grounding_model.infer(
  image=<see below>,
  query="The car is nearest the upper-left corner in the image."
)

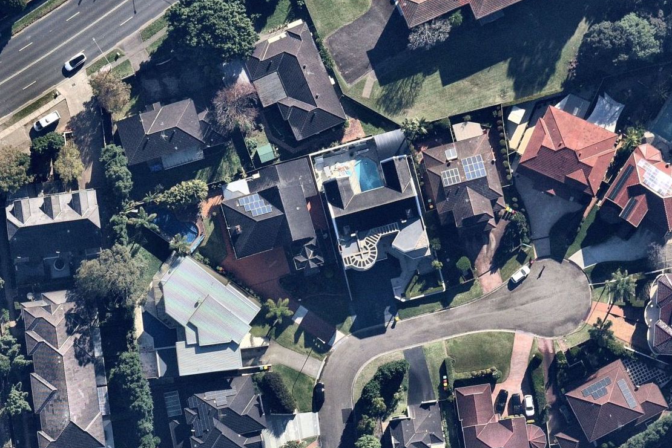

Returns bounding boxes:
[64,52,87,71]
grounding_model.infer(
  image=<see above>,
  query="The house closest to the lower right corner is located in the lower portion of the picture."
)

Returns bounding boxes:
[565,360,669,442]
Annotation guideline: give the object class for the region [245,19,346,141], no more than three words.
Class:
house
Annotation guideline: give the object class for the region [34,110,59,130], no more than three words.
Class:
vehicle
